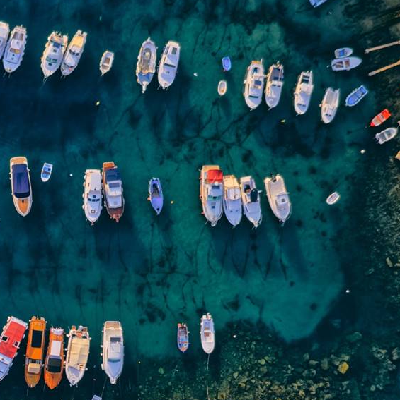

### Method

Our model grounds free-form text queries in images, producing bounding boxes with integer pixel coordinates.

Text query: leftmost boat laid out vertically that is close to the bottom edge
[0,316,27,382]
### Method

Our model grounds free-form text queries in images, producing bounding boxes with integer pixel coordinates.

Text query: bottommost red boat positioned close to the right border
[370,109,391,125]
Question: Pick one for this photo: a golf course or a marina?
marina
